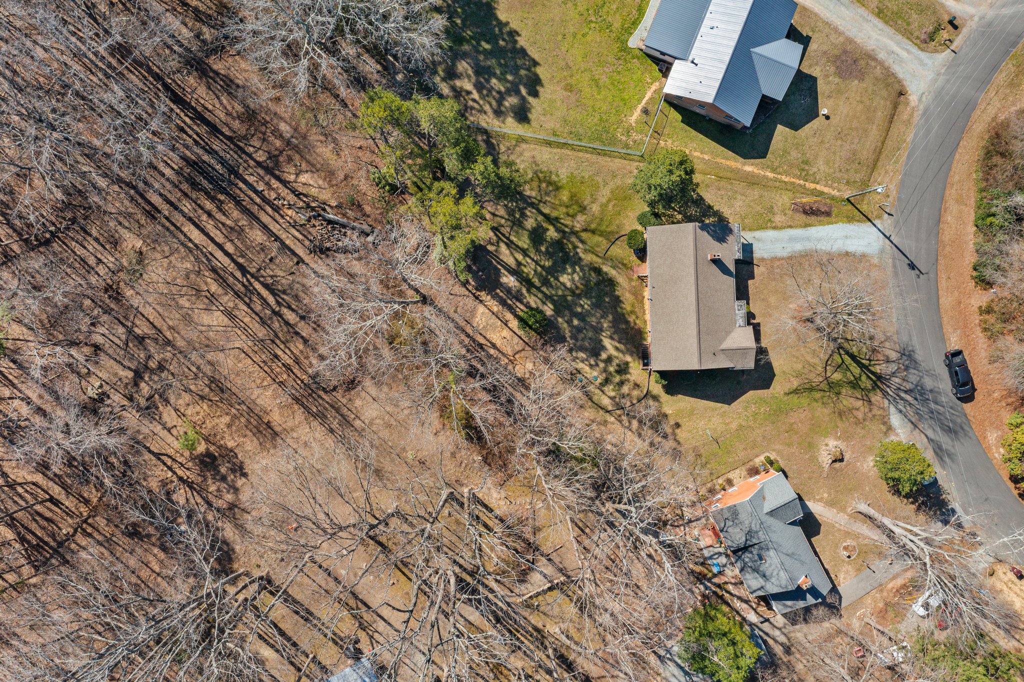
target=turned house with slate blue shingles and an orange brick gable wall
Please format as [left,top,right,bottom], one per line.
[704,469,832,614]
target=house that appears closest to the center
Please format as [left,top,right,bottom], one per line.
[643,223,756,371]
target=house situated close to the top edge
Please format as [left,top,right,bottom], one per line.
[642,0,803,131]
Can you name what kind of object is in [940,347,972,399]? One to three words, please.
truck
